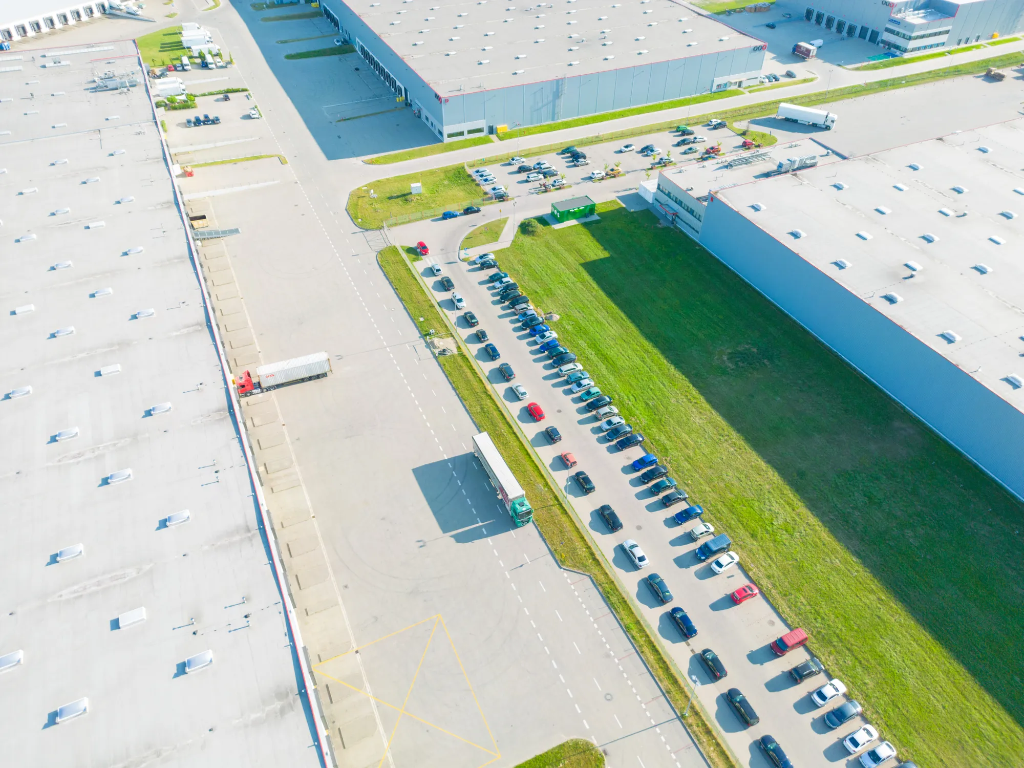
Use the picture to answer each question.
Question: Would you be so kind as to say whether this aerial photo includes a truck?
Yes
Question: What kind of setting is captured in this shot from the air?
industrial area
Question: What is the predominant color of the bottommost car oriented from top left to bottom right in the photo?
blue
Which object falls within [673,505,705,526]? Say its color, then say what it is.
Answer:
blue car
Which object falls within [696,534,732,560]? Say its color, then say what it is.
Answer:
blue vehicle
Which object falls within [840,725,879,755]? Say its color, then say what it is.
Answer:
white car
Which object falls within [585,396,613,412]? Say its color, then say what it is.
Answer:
blue car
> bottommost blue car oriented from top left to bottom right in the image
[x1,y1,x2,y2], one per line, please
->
[758,733,795,768]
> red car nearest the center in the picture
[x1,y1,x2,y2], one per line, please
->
[527,404,546,422]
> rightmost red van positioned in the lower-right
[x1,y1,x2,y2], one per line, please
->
[770,626,809,657]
